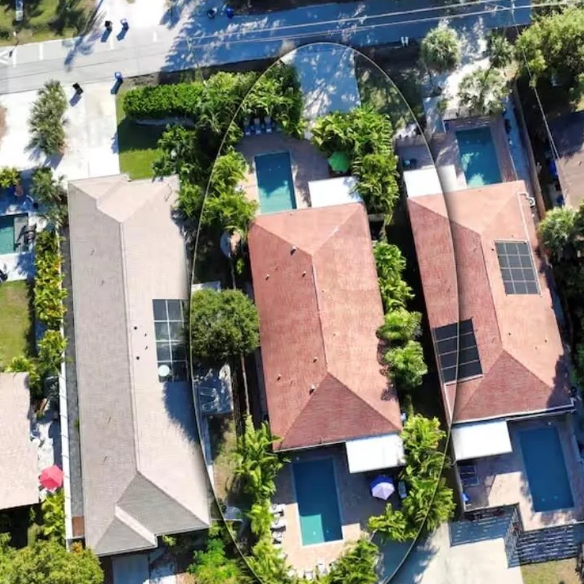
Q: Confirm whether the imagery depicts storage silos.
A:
No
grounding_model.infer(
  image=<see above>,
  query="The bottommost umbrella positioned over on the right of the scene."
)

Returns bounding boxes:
[370,475,396,500]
